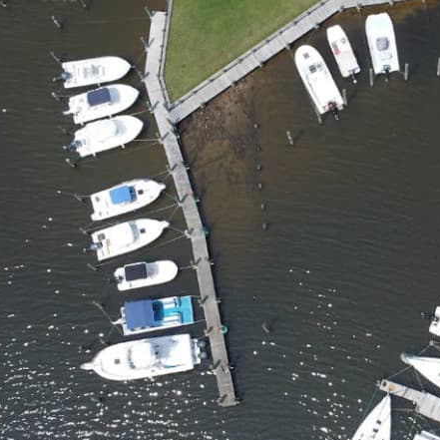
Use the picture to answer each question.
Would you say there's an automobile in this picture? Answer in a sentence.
No, there appears to be no automobile in this shot.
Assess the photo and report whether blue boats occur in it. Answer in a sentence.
Yes, a blue boat appears in the view.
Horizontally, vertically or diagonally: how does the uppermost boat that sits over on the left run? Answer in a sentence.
The uppermost boat that sits over on the left is laid out horizontally.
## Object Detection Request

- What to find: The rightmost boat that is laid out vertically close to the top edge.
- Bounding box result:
[367,14,400,83]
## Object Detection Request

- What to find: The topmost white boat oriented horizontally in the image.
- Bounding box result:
[52,60,132,87]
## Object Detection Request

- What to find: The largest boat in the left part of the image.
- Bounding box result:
[76,333,212,382]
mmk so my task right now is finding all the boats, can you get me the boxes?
[52,60,132,87]
[111,295,194,339]
[330,25,361,83]
[402,355,440,390]
[76,333,212,382]
[367,14,400,83]
[66,116,143,157]
[298,45,345,122]
[351,396,391,440]
[82,219,169,260]
[107,260,178,293]
[60,85,139,126]
[89,180,165,220]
